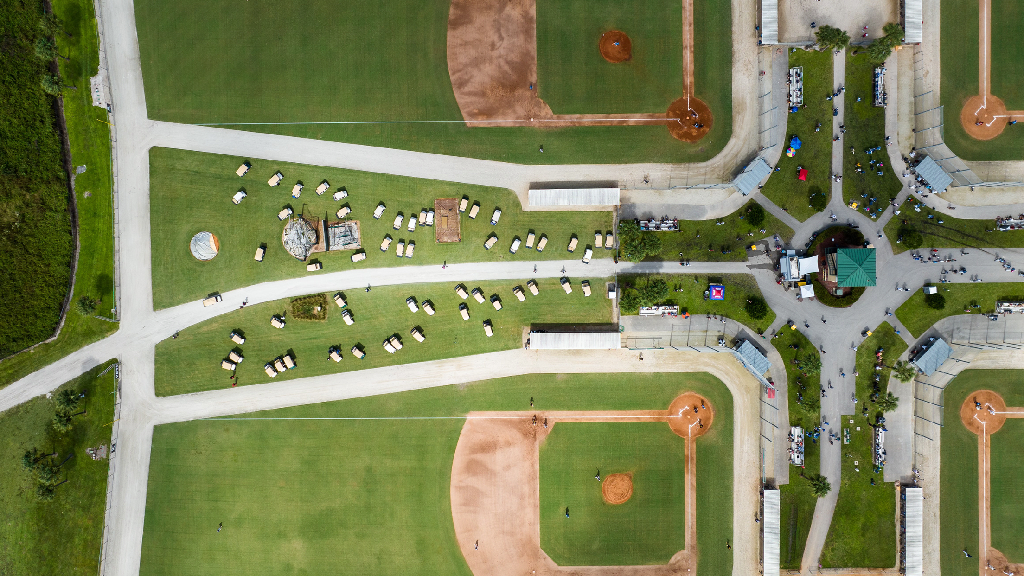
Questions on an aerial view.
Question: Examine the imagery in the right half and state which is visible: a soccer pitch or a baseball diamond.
baseball diamond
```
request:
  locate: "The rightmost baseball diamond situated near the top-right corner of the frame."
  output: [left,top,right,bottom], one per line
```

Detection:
[940,0,1024,161]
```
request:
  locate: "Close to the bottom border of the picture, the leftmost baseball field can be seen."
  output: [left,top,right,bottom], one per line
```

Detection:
[139,372,734,576]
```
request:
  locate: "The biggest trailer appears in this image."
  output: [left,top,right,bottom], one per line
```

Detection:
[775,251,803,287]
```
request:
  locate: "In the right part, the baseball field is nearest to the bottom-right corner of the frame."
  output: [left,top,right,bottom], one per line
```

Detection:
[940,369,1024,576]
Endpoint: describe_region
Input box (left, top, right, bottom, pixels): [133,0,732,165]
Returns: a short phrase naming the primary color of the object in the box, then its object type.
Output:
green baseball field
